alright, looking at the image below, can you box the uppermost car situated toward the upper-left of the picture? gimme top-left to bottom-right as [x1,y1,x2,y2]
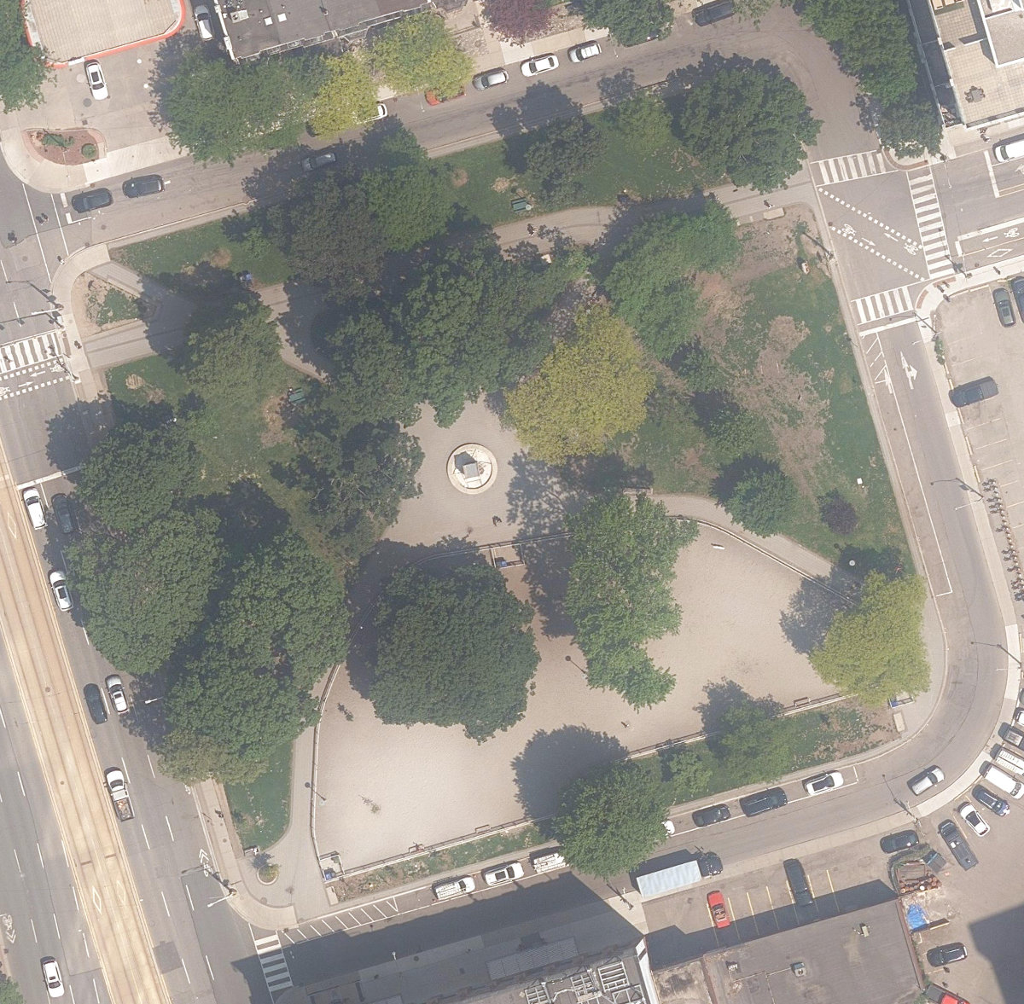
[193,4,215,41]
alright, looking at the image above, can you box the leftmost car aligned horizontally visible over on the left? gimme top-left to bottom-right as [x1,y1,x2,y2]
[71,188,114,212]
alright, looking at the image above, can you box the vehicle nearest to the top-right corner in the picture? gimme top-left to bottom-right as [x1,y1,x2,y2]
[993,138,1024,161]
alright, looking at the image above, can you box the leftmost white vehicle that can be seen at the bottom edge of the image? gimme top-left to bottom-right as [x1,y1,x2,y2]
[40,956,64,998]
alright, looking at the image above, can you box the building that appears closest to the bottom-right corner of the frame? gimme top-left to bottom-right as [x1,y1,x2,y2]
[702,895,928,1004]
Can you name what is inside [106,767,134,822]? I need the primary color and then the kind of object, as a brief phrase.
white truck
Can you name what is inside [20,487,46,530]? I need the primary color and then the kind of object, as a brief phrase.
white car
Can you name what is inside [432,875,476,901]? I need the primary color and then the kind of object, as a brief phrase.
white vehicle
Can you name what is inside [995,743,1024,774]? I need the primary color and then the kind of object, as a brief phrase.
white van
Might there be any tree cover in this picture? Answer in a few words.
Yes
